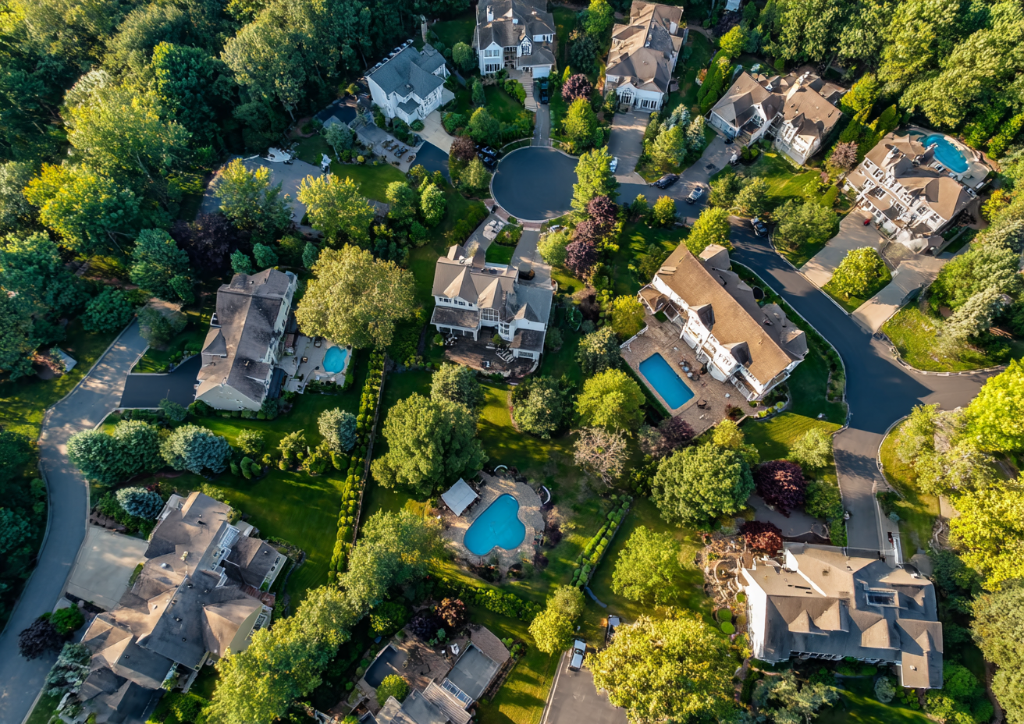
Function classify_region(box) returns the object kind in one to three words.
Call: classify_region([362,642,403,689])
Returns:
swimming pool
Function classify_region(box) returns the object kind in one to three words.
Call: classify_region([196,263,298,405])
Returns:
house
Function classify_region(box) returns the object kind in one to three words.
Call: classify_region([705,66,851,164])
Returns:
house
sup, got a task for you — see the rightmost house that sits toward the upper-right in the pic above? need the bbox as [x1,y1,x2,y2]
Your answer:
[840,138,968,253]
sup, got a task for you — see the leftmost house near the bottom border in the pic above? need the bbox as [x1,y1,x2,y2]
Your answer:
[71,491,293,724]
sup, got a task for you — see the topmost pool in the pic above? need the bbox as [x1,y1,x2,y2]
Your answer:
[916,132,971,175]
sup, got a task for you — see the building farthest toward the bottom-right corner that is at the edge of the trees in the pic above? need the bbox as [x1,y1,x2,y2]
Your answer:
[739,542,946,692]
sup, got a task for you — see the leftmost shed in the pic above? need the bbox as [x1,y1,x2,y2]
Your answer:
[57,345,85,372]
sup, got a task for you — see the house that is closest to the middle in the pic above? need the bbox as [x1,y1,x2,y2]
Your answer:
[431,239,552,356]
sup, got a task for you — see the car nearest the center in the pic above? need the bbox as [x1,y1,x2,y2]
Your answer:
[518,268,540,283]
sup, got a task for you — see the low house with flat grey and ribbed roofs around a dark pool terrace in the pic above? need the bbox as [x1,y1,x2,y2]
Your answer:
[364,642,499,724]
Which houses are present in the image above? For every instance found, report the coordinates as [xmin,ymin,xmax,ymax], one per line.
[705,66,851,164]
[608,0,686,110]
[365,38,448,127]
[364,642,499,724]
[739,542,946,692]
[431,239,552,356]
[71,491,293,724]
[196,263,298,405]
[636,239,810,395]
[840,138,968,253]
[476,0,557,78]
